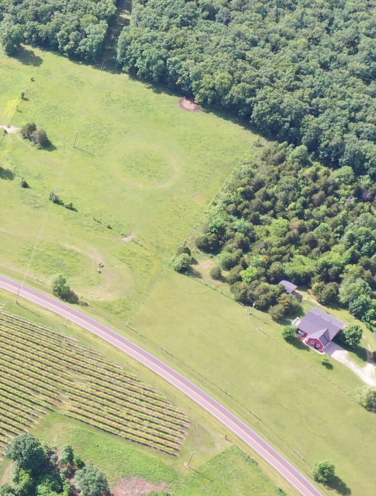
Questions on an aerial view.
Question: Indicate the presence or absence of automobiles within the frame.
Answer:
No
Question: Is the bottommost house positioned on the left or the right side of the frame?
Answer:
right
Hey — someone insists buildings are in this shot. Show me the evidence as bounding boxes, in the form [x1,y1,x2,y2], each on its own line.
[293,308,347,351]
[278,280,305,297]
